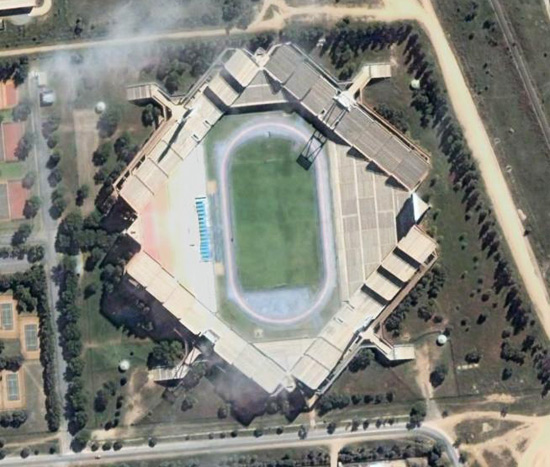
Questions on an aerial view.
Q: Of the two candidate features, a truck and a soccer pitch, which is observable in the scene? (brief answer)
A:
soccer pitch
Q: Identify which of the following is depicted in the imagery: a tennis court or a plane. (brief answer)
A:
tennis court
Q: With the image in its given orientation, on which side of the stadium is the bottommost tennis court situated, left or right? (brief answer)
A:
left of it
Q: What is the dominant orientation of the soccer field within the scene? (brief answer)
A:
from top to bottom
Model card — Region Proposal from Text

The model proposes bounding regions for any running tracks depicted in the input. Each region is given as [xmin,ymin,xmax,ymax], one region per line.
[216,115,336,329]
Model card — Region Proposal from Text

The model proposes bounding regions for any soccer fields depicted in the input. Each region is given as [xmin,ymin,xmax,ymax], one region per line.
[231,130,321,314]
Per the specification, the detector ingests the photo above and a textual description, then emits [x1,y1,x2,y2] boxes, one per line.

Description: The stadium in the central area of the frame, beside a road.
[111,41,438,404]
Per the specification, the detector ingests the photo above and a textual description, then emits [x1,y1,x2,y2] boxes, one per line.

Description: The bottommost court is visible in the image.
[0,367,25,411]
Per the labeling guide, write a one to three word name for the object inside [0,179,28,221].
sports court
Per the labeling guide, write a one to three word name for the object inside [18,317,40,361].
tennis court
